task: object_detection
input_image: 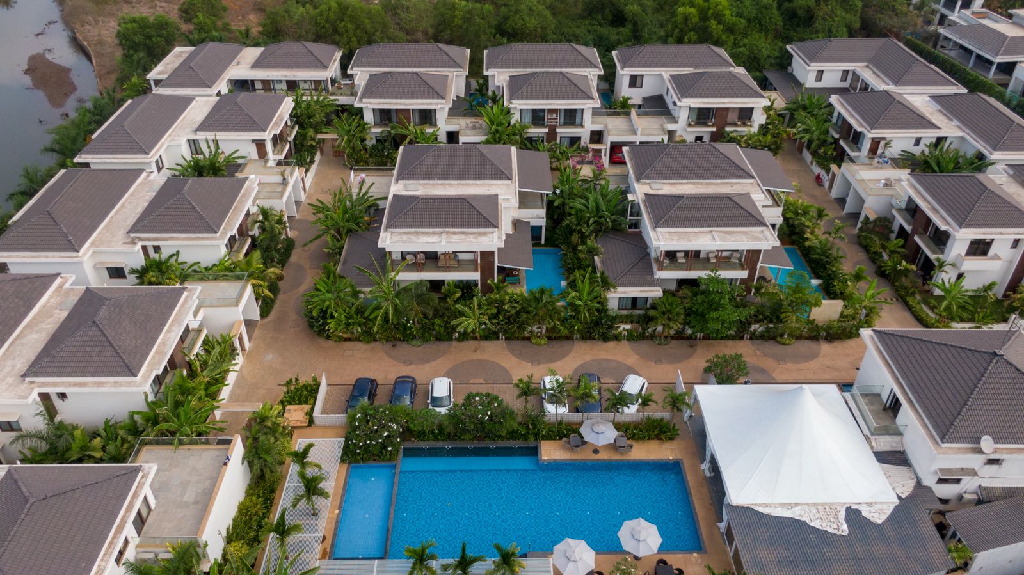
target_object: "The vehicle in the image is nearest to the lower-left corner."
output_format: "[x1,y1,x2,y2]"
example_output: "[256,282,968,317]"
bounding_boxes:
[350,373,384,416]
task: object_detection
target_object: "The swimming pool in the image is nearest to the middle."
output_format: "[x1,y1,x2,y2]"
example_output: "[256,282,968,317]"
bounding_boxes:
[523,246,571,310]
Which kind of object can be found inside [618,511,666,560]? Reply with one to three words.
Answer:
umbrella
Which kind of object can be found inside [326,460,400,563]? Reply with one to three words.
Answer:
swimming pool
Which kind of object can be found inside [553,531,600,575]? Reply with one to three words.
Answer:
umbrella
